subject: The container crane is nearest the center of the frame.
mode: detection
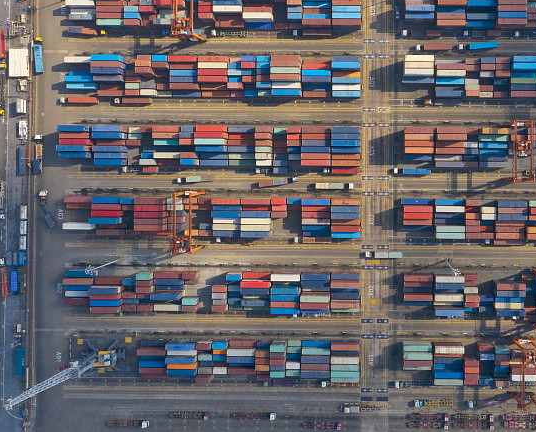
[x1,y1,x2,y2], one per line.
[171,190,207,257]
